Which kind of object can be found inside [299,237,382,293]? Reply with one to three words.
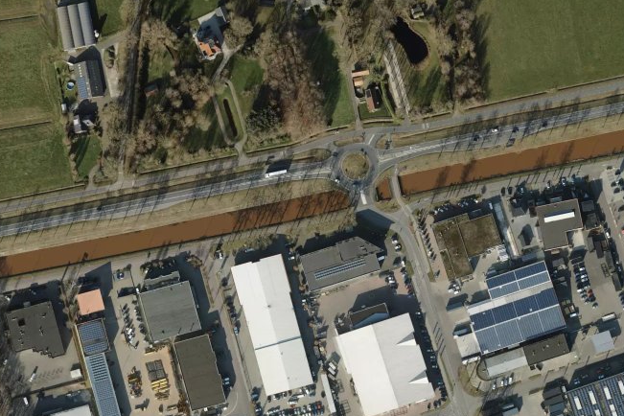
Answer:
building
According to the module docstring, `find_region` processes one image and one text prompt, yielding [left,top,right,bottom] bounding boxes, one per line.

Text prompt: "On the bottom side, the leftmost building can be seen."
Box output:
[6,302,65,357]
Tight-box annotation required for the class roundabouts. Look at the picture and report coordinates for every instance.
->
[332,140,380,186]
